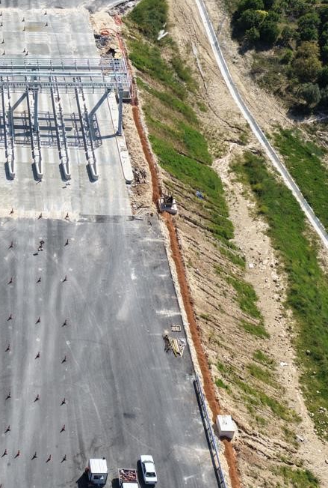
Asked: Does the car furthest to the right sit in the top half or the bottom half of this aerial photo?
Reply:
bottom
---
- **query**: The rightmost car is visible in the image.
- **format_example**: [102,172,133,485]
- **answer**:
[139,452,159,483]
